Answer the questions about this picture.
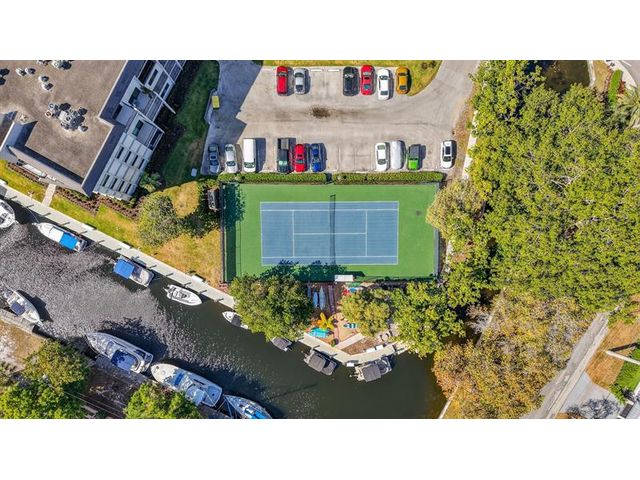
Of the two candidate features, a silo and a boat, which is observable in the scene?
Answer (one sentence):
There is a boat in the scene.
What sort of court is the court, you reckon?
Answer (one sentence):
Looking closely, the court is a tennis court.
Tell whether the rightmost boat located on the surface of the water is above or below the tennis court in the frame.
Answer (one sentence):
From this view, the rightmost boat located on the surface of the water can be seen below the tennis court.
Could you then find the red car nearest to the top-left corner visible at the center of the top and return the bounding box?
[276,66,289,95]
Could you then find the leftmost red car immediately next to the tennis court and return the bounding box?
[294,144,307,173]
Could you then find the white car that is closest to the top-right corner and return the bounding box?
[440,141,454,169]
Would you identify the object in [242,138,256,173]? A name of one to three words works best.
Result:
vehicle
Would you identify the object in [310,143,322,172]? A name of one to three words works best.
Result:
vehicle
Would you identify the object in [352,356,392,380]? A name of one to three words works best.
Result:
boat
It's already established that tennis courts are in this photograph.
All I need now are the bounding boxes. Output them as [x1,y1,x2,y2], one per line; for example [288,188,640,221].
[224,184,434,283]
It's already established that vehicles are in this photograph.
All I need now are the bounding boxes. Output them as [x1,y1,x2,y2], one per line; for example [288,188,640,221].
[396,68,409,94]
[310,143,322,172]
[207,144,221,173]
[406,142,420,171]
[225,144,238,173]
[294,144,307,173]
[440,141,454,169]
[375,143,388,172]
[276,138,290,173]
[293,69,306,96]
[242,138,256,173]
[361,66,374,94]
[342,67,356,96]
[377,69,390,100]
[276,66,289,95]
